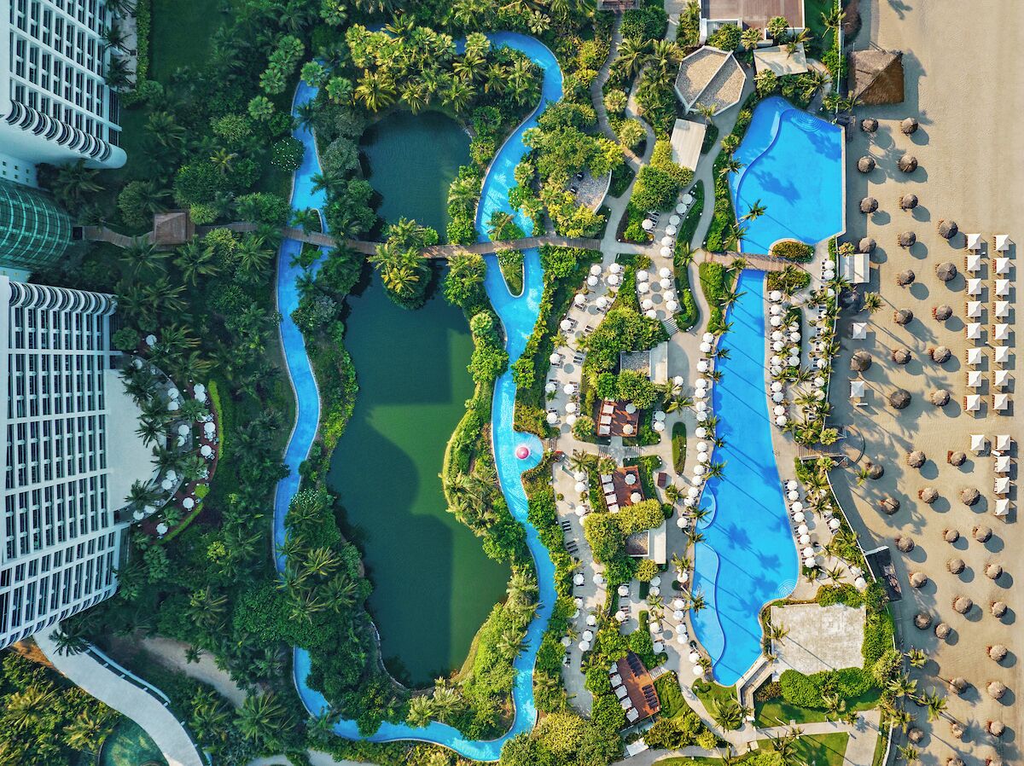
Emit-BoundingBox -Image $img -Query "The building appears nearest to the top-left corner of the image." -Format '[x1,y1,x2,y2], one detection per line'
[0,0,122,167]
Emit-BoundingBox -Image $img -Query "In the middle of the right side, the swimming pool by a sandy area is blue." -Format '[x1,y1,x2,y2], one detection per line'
[687,94,845,688]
